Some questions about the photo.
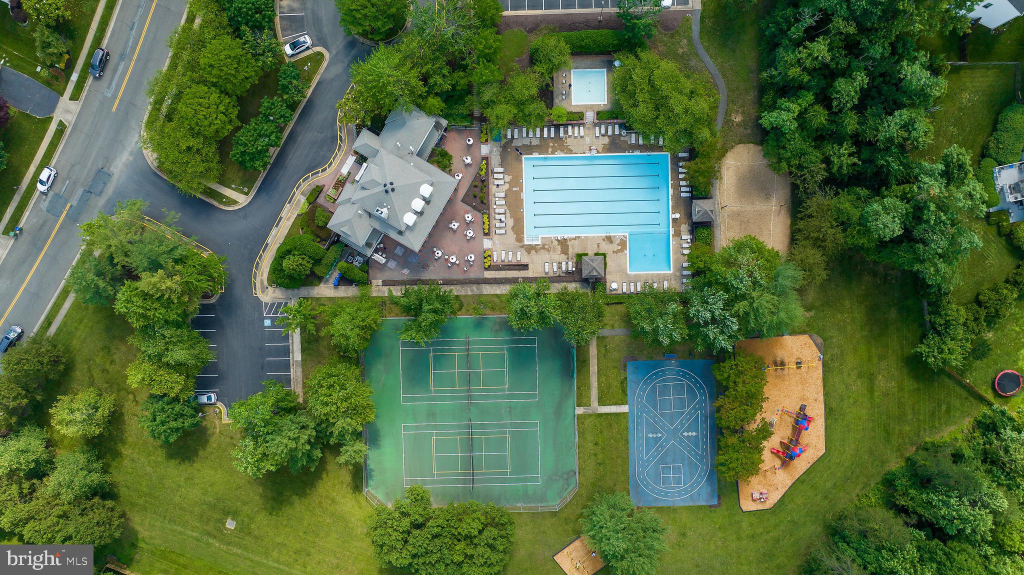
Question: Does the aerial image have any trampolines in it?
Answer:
Yes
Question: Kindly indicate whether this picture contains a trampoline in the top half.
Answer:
No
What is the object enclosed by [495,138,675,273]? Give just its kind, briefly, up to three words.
swimming pool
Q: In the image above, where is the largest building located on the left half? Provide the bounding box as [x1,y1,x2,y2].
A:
[326,100,459,257]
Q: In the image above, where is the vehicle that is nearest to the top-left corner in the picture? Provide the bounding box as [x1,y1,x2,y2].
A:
[88,48,110,78]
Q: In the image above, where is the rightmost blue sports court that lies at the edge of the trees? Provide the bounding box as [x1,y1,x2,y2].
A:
[627,360,718,507]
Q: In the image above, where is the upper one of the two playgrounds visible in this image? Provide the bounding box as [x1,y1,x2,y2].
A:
[734,331,826,512]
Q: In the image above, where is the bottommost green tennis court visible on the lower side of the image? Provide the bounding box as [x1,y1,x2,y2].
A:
[364,414,577,506]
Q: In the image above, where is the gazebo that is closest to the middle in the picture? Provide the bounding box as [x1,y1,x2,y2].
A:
[582,256,604,281]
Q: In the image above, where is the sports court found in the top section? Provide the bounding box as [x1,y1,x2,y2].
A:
[720,143,791,265]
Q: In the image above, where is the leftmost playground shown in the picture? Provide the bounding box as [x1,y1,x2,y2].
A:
[552,535,607,575]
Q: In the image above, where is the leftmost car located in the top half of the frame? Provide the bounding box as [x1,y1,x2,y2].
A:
[38,166,57,192]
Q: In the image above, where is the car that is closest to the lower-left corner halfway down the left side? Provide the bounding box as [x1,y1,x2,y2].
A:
[0,326,23,353]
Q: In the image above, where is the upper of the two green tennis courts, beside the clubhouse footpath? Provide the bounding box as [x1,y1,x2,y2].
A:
[363,316,575,418]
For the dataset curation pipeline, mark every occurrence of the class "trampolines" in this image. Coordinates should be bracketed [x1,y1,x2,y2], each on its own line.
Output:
[994,370,1022,397]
